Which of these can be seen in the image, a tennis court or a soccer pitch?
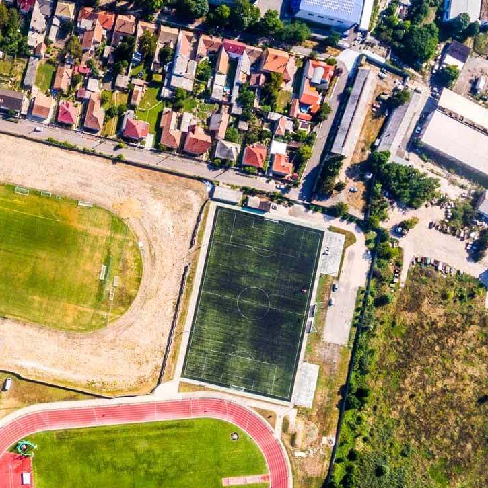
soccer pitch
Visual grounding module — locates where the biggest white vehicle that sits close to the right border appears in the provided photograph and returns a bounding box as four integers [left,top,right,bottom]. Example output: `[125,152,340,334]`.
[472,76,485,93]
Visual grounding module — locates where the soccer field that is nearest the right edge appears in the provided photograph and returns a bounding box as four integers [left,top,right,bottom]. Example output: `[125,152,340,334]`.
[181,205,324,402]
